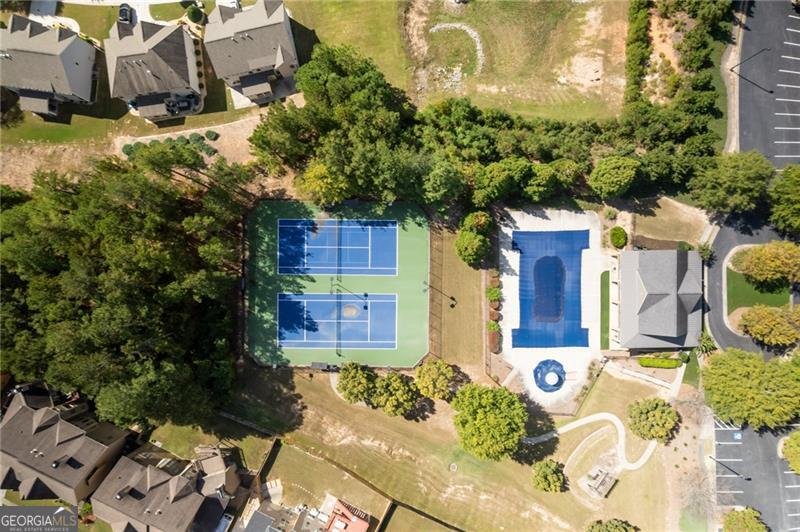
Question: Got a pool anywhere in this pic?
Yes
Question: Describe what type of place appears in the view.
residential area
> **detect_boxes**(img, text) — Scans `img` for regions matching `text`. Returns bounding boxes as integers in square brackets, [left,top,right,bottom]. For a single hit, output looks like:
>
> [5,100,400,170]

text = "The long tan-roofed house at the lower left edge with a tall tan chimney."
[0,374,124,507]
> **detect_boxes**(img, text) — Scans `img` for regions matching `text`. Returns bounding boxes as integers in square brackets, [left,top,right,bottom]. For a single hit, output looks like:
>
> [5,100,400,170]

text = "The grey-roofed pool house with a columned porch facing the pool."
[608,248,702,348]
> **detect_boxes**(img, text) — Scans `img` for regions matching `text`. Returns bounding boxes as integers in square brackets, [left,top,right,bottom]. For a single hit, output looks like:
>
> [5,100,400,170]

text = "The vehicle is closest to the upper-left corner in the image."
[118,1,131,20]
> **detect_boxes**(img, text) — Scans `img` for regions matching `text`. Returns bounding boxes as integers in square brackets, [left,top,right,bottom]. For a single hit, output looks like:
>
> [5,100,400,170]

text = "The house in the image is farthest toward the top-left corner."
[0,0,95,117]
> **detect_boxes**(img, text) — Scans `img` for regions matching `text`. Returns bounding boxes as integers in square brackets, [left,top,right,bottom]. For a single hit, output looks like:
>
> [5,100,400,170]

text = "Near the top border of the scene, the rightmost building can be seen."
[202,0,302,101]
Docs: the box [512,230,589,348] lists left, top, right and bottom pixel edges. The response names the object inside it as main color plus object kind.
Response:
blue swimming pool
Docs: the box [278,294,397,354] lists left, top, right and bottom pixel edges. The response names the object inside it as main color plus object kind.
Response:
blue tennis court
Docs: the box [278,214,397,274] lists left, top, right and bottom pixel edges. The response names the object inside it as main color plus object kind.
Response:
blue tennis court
